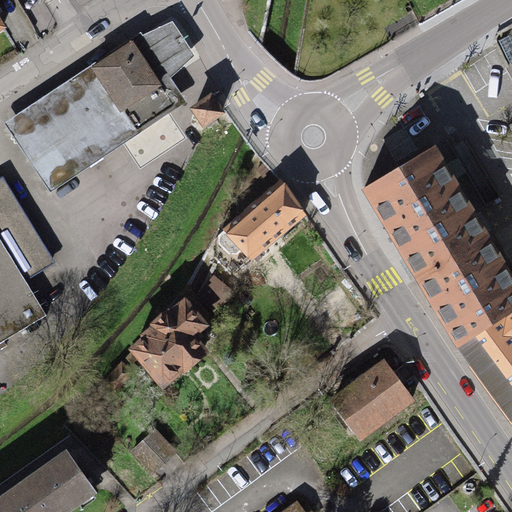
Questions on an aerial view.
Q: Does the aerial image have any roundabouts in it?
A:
Yes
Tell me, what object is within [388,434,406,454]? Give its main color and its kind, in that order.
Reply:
black car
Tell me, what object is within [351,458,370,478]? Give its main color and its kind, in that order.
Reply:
blue car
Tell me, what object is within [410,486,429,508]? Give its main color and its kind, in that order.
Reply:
black car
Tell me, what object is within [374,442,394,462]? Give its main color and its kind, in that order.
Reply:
white car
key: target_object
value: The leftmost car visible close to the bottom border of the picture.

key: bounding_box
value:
[228,467,249,488]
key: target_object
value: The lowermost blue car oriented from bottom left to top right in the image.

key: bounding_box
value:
[264,492,287,511]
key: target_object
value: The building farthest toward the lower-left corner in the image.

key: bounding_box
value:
[0,450,96,512]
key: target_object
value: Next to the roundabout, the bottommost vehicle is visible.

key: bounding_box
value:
[308,190,330,215]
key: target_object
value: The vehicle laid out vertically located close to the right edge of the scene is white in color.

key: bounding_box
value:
[488,68,501,98]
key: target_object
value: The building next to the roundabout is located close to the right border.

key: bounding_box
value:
[364,146,512,348]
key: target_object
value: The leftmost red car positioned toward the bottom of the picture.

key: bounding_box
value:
[414,360,432,380]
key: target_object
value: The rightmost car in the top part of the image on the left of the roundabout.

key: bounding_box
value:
[251,108,267,130]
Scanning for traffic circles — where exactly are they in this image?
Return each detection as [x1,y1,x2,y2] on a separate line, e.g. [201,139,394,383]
[268,92,358,182]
